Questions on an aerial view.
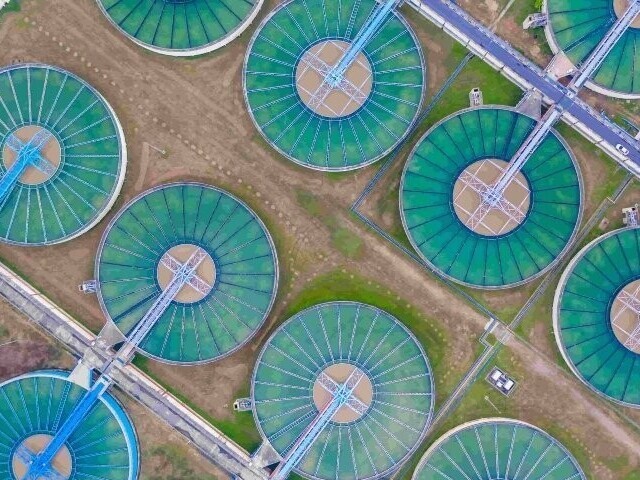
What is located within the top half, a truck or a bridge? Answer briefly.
bridge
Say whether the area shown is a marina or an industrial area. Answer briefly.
industrial area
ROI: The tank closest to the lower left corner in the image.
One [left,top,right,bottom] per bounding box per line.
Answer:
[0,355,139,480]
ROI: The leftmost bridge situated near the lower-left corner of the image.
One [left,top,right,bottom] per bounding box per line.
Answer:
[36,371,114,468]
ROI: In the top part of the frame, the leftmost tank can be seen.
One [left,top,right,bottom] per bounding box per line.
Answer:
[0,62,128,248]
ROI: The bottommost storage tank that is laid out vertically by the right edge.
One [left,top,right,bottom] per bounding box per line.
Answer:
[552,225,640,409]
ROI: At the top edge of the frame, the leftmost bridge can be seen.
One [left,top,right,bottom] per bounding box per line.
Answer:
[331,0,402,79]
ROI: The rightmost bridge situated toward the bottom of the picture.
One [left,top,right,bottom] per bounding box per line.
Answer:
[271,392,346,480]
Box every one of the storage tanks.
[552,225,640,409]
[0,355,139,480]
[0,62,128,248]
[410,418,586,480]
[398,89,586,290]
[93,180,279,366]
[242,0,428,171]
[94,0,264,56]
[250,300,436,480]
[542,0,640,99]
